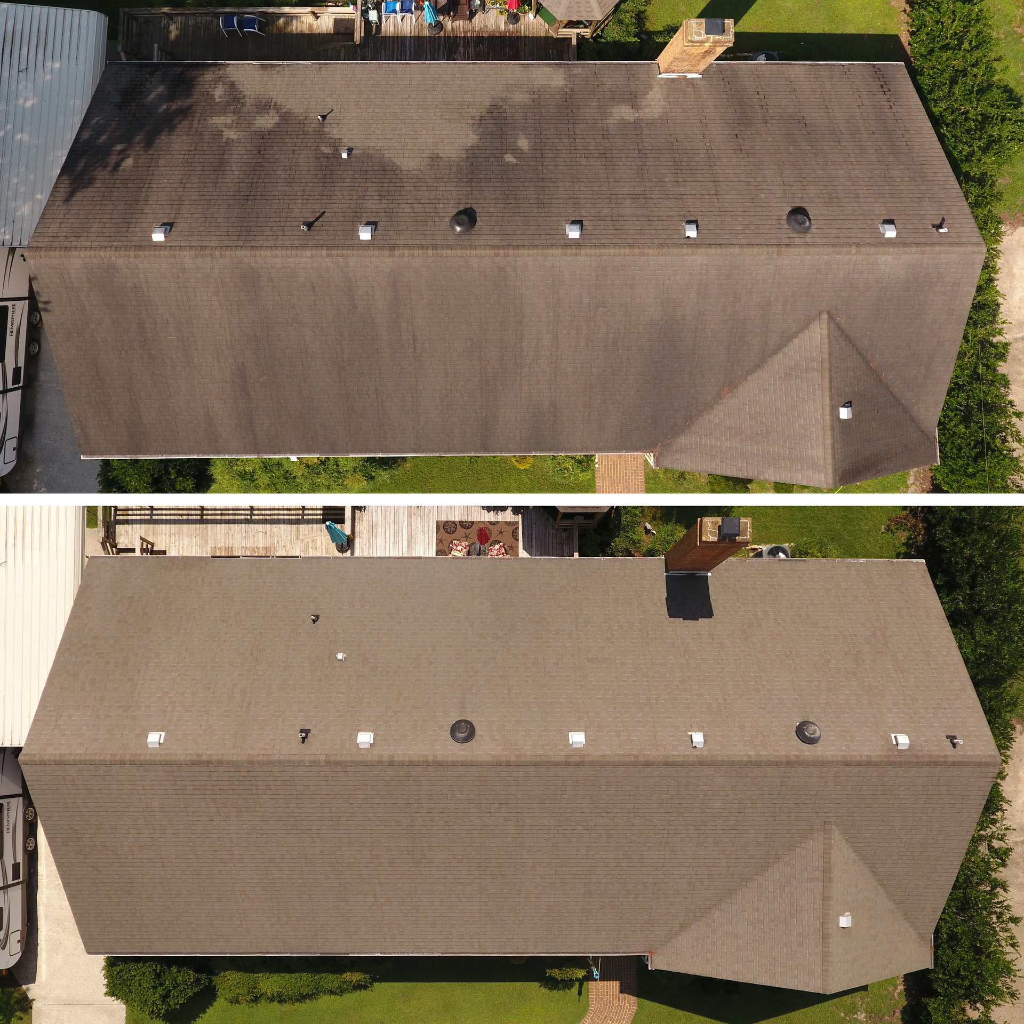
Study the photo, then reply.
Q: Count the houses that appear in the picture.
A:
2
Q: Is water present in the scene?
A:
No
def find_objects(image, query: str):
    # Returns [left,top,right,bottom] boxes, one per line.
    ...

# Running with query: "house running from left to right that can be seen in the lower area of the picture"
[20,516,1000,995]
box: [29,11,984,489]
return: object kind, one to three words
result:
house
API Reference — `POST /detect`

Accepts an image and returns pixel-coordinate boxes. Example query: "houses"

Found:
[29,11,984,489]
[20,516,1000,995]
